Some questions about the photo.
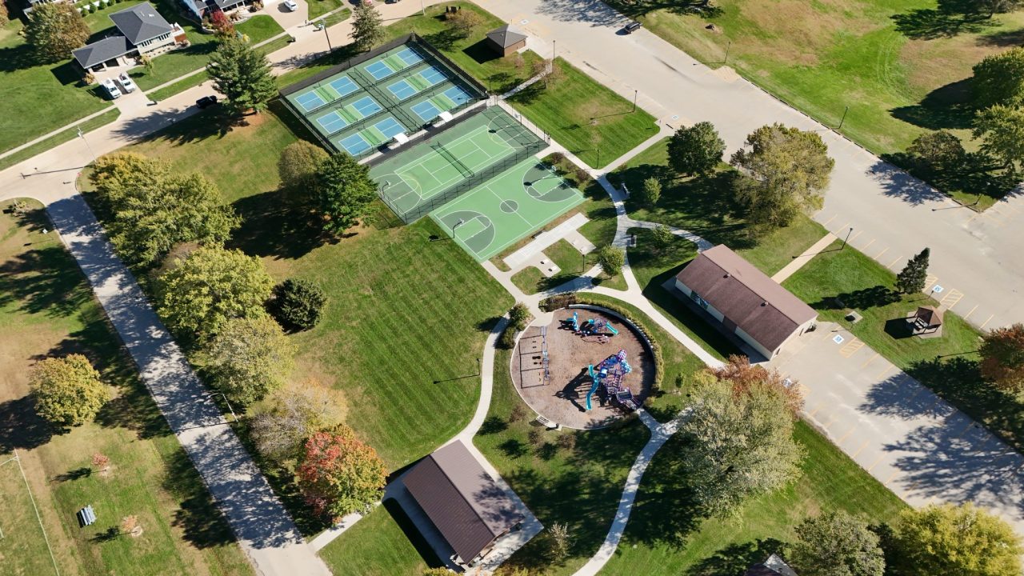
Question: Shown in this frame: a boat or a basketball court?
basketball court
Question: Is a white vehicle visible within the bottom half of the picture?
No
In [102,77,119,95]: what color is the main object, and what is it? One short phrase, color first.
white car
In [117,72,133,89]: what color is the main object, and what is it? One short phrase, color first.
white vehicle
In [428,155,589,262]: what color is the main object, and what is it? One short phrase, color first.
green basketball court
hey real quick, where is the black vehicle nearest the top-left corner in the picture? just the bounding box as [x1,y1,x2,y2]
[195,95,217,108]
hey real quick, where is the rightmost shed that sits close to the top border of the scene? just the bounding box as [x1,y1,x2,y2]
[486,24,527,57]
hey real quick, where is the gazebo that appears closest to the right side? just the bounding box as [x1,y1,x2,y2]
[910,309,942,338]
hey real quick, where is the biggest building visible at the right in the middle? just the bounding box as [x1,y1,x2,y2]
[677,244,818,356]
